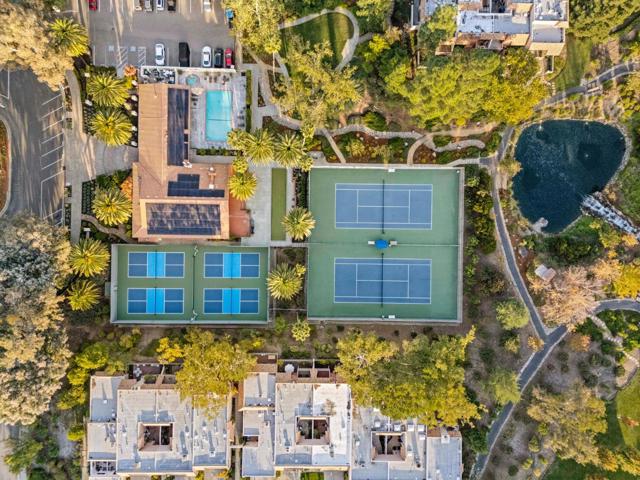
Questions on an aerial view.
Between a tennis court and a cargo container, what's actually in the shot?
tennis court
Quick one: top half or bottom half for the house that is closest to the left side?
bottom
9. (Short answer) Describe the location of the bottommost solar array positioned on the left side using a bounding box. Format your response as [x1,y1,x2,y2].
[145,204,221,234]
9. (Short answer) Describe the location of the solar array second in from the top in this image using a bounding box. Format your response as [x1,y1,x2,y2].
[167,174,224,196]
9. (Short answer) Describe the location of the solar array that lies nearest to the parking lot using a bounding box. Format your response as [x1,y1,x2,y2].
[167,88,189,166]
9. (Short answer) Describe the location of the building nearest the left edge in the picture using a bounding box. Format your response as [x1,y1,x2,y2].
[87,369,129,480]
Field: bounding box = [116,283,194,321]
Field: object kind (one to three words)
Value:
sports court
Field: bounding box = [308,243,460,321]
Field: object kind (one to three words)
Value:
tennis court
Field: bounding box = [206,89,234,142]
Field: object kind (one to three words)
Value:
swimming pool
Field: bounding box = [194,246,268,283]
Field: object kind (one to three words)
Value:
sports court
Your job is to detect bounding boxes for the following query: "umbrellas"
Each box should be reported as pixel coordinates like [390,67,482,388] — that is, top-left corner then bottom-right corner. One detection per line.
[191,85,204,98]
[284,362,295,372]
